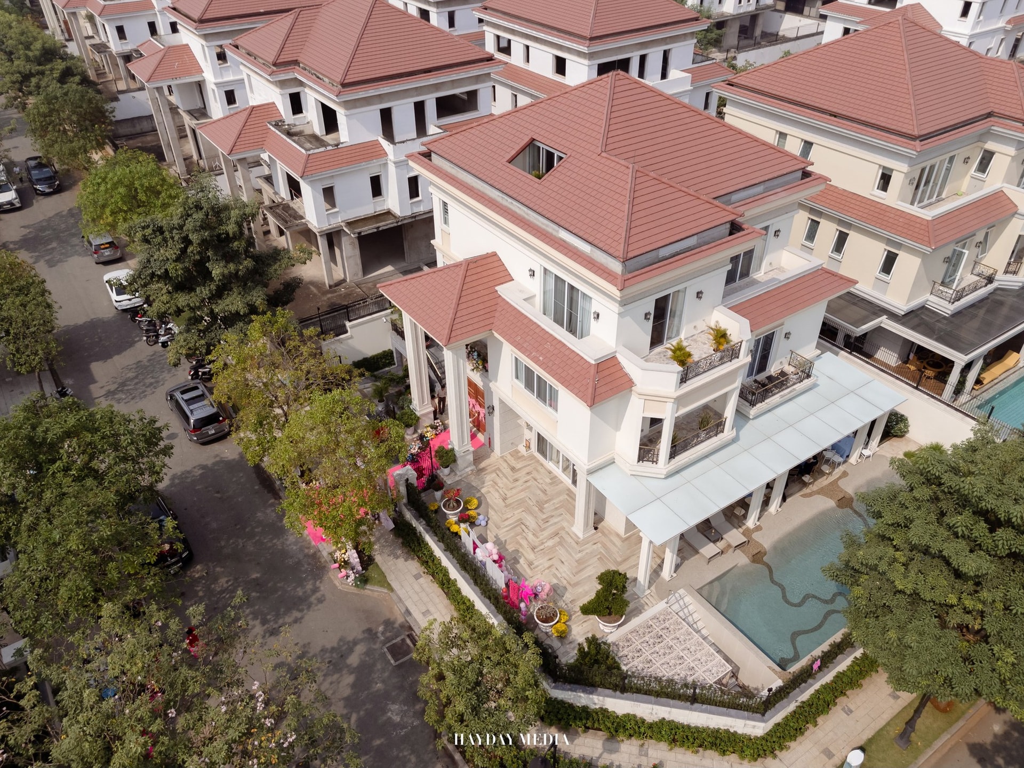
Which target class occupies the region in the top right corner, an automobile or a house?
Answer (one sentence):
The feature located in the top right corner is a house.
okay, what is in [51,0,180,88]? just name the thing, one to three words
house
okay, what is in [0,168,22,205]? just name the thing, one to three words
car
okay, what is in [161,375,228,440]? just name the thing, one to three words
car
